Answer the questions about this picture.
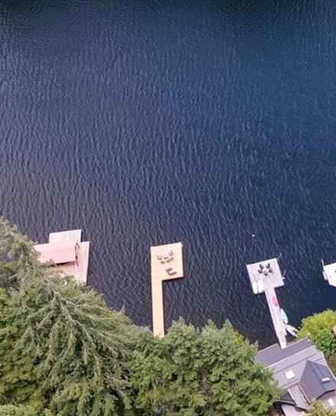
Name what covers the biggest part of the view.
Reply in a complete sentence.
The largest share of the image is taken up by water.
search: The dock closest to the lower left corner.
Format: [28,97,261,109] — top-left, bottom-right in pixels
[30,229,91,288]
